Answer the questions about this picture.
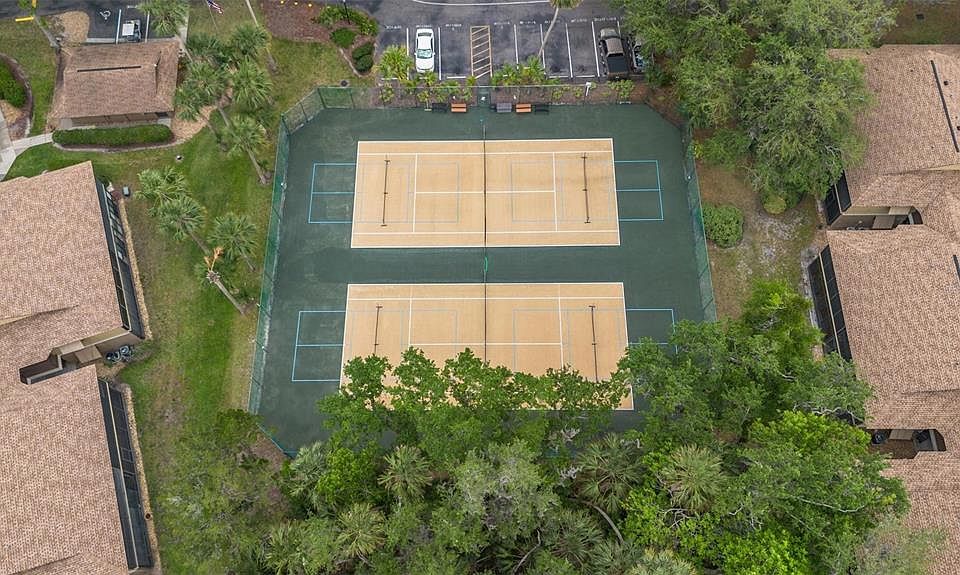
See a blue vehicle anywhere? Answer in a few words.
No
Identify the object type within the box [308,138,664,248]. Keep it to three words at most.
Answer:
tennis court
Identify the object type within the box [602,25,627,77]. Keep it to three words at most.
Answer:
vehicle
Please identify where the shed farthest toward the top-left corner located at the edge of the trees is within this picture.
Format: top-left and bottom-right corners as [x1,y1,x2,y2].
[48,38,185,129]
